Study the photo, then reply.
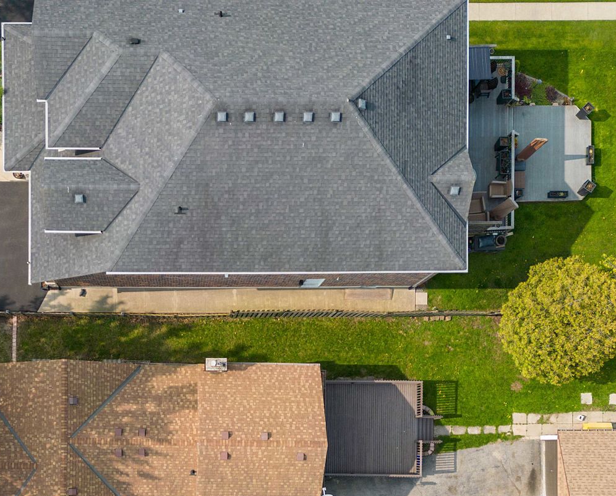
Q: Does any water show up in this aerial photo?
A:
No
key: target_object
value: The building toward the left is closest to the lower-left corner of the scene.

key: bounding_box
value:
[0,358,334,496]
